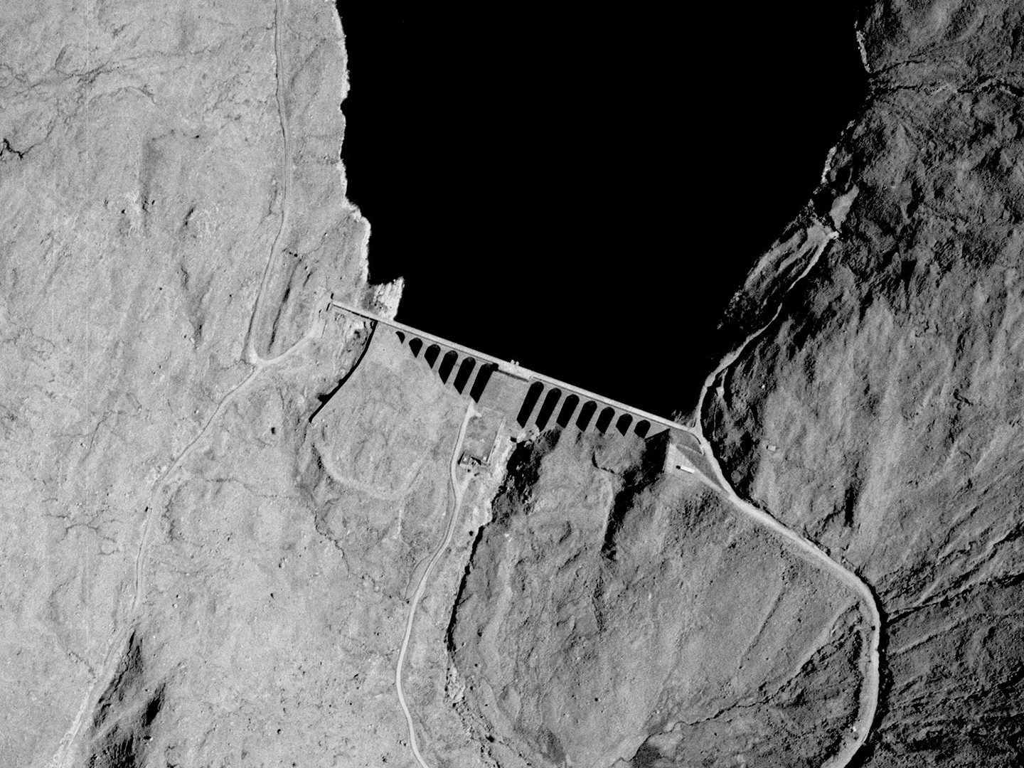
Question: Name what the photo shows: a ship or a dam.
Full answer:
Visible in the photo is a dam.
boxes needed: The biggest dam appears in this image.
[333,301,701,443]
